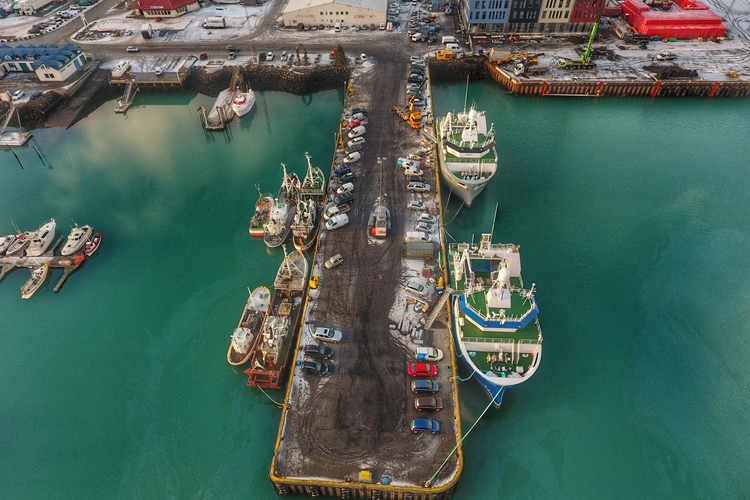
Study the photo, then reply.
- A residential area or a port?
port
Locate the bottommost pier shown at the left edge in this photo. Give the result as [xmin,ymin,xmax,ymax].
[0,236,87,293]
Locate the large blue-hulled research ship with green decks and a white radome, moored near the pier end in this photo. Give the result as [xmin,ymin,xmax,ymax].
[448,207,543,406]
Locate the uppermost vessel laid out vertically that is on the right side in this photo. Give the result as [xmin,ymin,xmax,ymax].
[439,75,497,207]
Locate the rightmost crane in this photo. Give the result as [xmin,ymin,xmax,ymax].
[557,0,605,70]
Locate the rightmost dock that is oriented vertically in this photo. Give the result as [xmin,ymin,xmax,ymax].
[268,62,465,500]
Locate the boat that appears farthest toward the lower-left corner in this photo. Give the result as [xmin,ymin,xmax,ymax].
[18,262,51,301]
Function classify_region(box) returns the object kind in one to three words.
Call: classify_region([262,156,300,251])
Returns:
boat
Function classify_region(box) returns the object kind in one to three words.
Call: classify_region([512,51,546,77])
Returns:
truck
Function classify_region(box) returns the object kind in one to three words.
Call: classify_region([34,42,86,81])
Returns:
shed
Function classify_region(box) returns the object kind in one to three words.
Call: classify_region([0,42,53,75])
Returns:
shed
